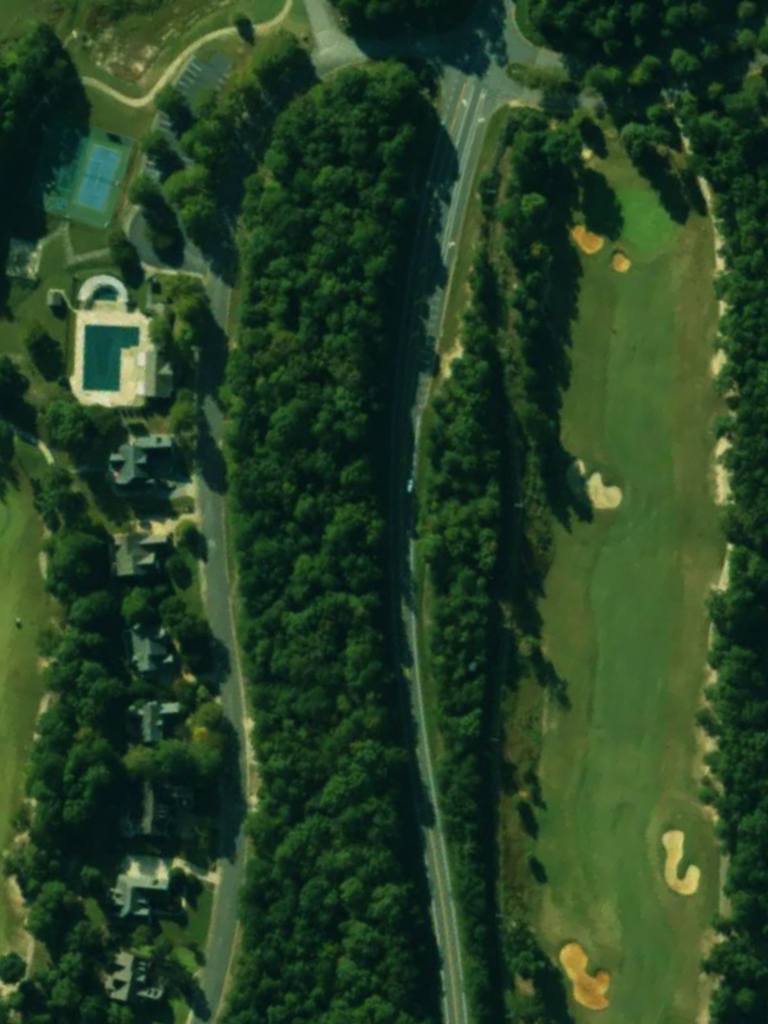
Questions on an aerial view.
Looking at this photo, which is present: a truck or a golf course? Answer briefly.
golf course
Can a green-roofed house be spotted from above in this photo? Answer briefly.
Yes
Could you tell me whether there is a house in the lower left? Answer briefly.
Yes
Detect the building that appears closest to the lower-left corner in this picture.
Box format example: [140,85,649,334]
[103,954,164,1013]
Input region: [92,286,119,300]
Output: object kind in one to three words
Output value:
swimming pool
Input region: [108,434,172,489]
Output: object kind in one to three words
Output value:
house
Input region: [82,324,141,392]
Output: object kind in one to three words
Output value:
swimming pool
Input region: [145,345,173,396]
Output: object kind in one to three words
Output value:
building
